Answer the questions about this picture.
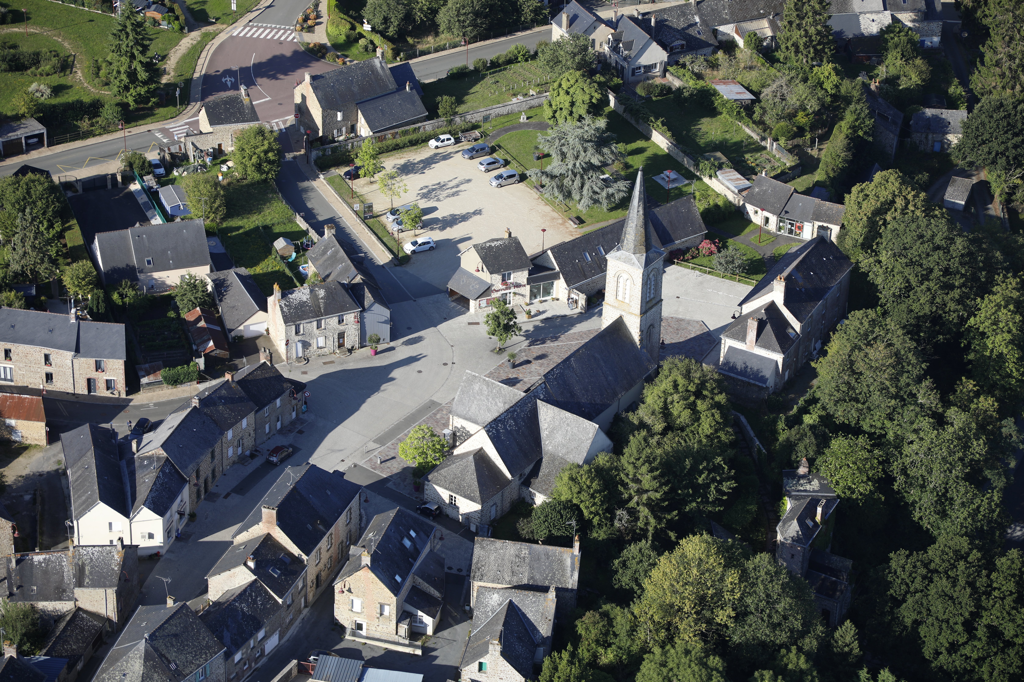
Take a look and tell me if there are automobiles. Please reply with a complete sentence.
Yes, this view includes an automobile.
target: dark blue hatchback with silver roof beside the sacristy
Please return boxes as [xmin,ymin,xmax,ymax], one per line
[413,500,446,521]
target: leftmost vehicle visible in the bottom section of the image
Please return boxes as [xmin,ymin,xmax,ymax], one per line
[127,416,154,442]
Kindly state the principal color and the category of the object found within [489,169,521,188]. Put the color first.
gray car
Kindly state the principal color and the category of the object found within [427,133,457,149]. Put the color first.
white car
